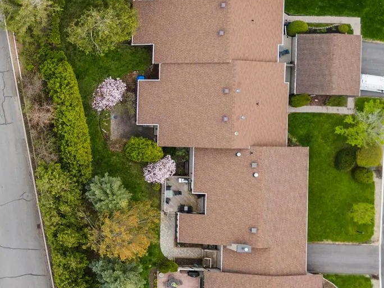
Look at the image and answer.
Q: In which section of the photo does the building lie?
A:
top right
